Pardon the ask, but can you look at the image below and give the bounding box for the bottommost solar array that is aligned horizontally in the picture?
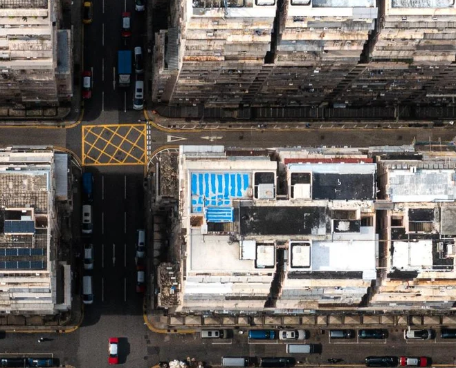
[0,248,43,268]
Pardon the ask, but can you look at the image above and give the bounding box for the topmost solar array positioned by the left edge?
[4,220,35,234]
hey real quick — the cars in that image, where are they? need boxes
[247,328,276,340]
[358,328,385,340]
[0,356,25,368]
[135,265,146,292]
[201,328,227,340]
[365,355,395,367]
[399,355,427,367]
[260,356,289,368]
[403,328,431,340]
[82,172,93,199]
[82,276,94,303]
[132,81,145,110]
[81,205,93,233]
[107,338,119,364]
[120,12,132,38]
[135,230,147,257]
[134,0,146,12]
[81,71,93,99]
[278,329,305,341]
[222,356,249,368]
[133,46,145,74]
[28,356,53,368]
[82,244,94,269]
[327,328,350,340]
[286,343,313,354]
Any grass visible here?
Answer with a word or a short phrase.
No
